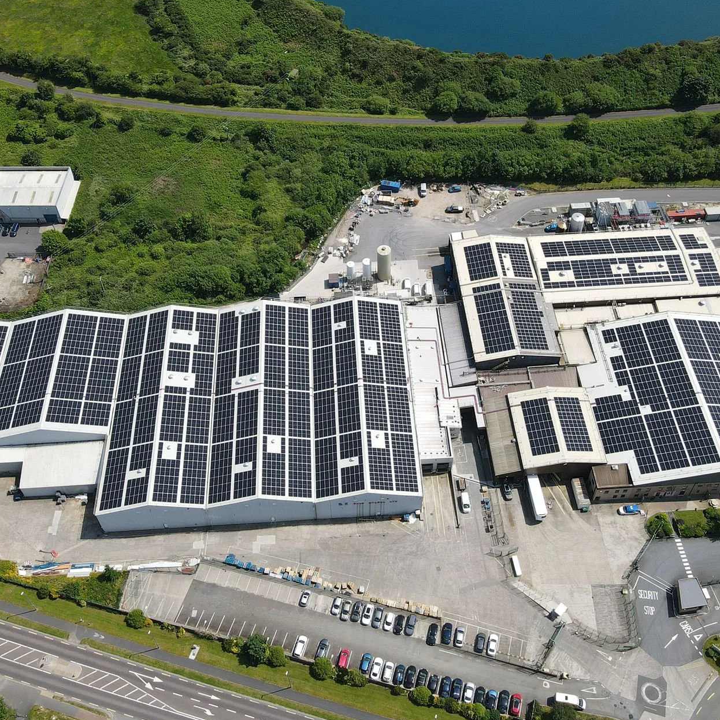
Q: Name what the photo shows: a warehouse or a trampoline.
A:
warehouse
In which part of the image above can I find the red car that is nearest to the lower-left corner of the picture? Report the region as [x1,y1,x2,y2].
[336,647,349,667]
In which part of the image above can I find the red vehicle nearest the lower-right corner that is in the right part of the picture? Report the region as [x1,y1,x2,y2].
[511,691,524,718]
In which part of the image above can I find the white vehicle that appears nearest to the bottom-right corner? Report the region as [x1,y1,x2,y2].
[556,690,586,708]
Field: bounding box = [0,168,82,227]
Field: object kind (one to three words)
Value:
building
